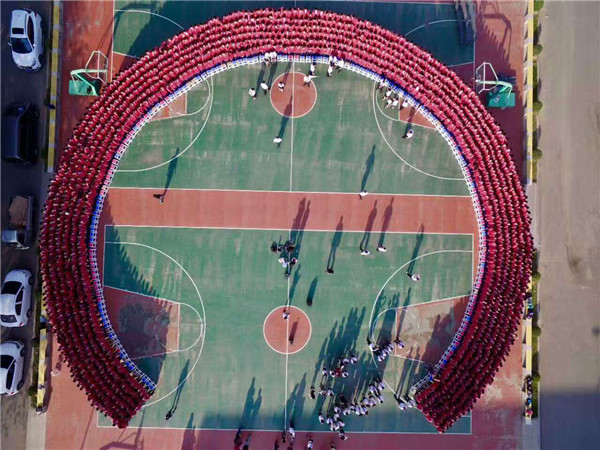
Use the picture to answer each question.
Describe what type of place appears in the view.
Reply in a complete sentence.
This looks like a sports ground.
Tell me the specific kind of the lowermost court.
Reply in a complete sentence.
It looks like the lowermost court is a basketball court.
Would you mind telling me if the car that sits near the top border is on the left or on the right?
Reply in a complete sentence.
The car that sits near the top border is on the left side of the image.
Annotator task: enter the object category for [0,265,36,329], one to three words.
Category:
car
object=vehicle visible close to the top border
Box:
[6,6,46,71]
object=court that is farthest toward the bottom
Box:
[97,226,473,434]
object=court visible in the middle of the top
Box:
[107,0,474,196]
